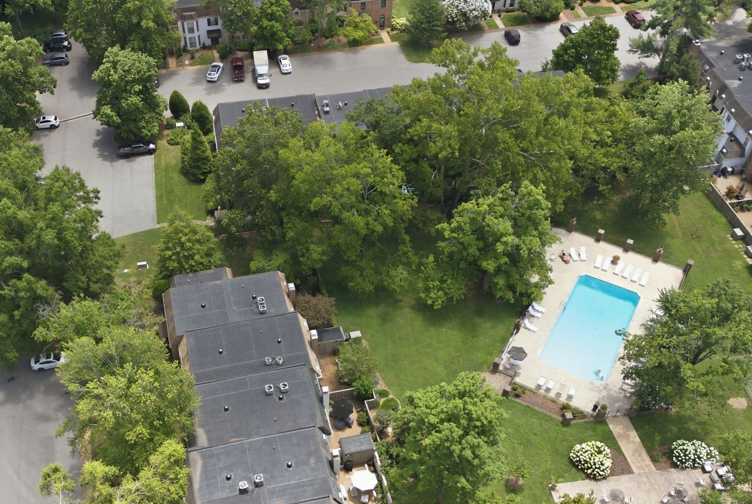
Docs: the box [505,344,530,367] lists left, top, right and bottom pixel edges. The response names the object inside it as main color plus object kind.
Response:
gray umbrella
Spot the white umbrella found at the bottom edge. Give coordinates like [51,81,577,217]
[350,470,378,495]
